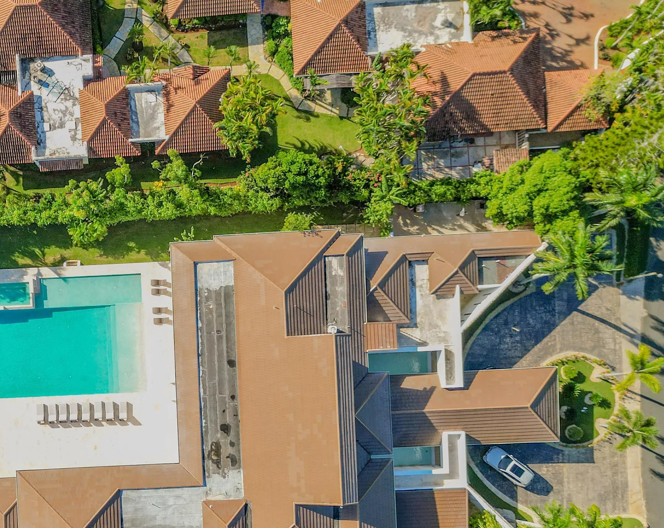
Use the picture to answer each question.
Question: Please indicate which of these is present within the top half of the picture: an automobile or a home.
home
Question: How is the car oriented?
on a diagonal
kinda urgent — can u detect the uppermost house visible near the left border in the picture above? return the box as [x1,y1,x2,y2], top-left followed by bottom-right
[0,0,233,171]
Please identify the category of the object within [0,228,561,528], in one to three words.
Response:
house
